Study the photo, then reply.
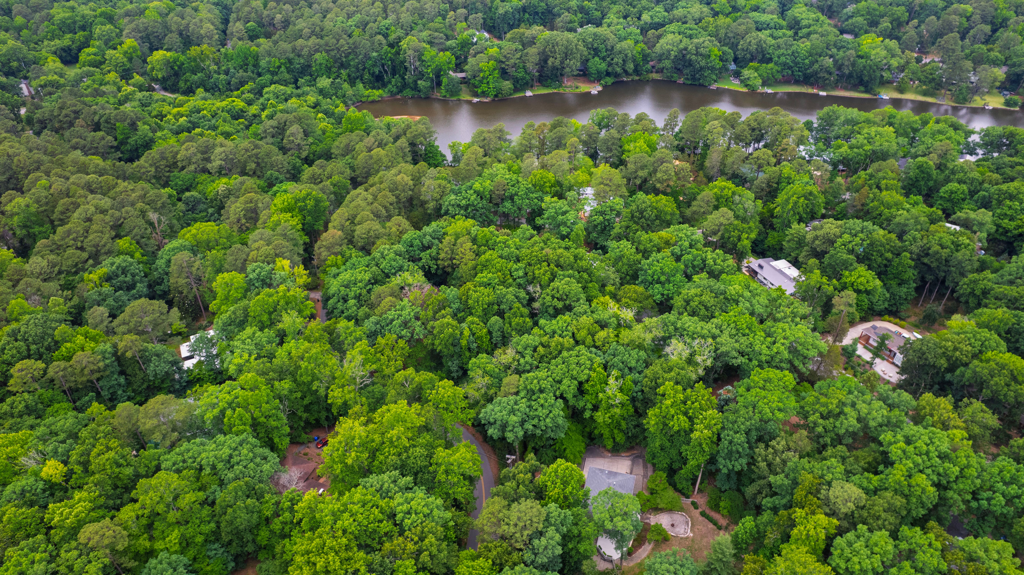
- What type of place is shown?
forest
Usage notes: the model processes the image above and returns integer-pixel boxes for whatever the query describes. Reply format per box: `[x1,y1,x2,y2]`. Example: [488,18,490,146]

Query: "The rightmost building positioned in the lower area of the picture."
[854,325,909,371]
